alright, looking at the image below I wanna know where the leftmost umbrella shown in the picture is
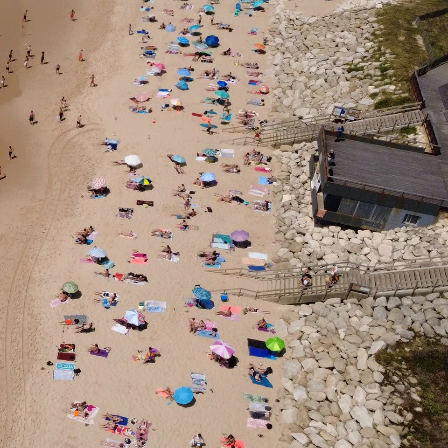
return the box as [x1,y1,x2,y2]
[62,283,79,295]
